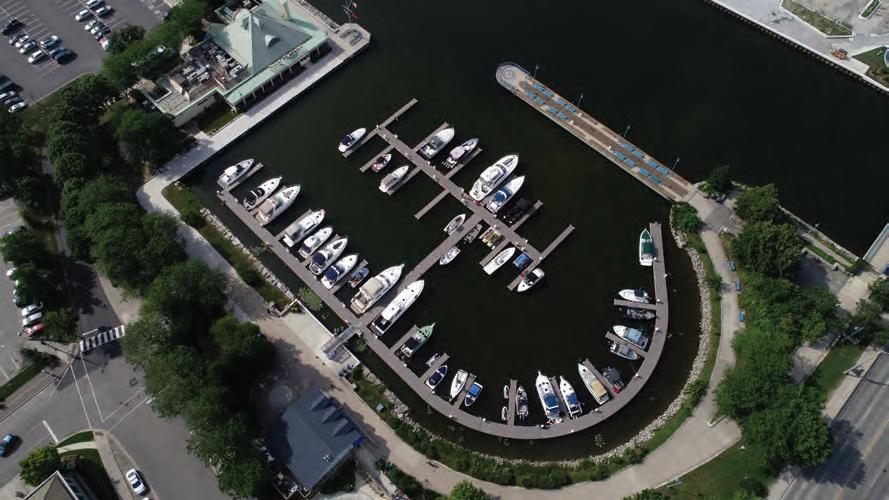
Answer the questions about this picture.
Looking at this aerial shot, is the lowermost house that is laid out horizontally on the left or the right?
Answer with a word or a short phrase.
left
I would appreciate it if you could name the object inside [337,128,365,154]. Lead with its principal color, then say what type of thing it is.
white boat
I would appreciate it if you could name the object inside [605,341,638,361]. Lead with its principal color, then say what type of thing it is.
gray boat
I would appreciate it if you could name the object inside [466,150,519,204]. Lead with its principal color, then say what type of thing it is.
white boat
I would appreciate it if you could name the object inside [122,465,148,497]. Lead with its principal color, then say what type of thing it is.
white car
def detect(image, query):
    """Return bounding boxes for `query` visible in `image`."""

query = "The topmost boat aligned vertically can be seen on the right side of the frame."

[635,227,654,267]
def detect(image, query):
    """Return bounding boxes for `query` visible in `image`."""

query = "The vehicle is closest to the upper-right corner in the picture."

[826,43,852,58]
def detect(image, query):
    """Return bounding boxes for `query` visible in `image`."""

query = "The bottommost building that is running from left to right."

[16,467,93,500]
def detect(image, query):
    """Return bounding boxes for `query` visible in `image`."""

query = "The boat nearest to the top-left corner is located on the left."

[216,158,254,191]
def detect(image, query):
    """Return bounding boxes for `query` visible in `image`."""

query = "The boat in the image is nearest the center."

[439,246,462,265]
